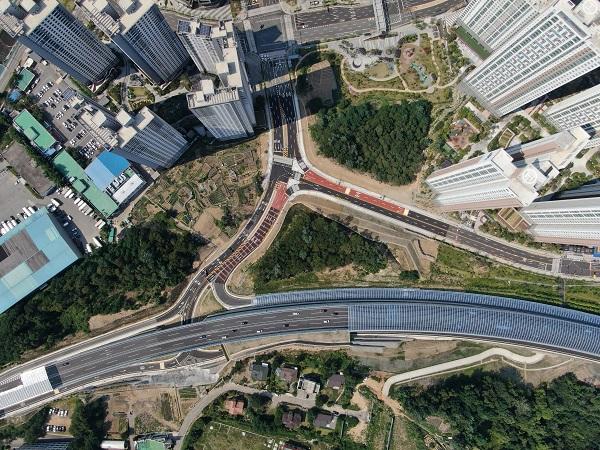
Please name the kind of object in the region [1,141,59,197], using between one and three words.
building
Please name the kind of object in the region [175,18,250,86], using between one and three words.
building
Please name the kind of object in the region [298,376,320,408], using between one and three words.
house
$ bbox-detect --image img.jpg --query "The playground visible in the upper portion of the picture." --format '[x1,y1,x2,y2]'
[348,44,434,87]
